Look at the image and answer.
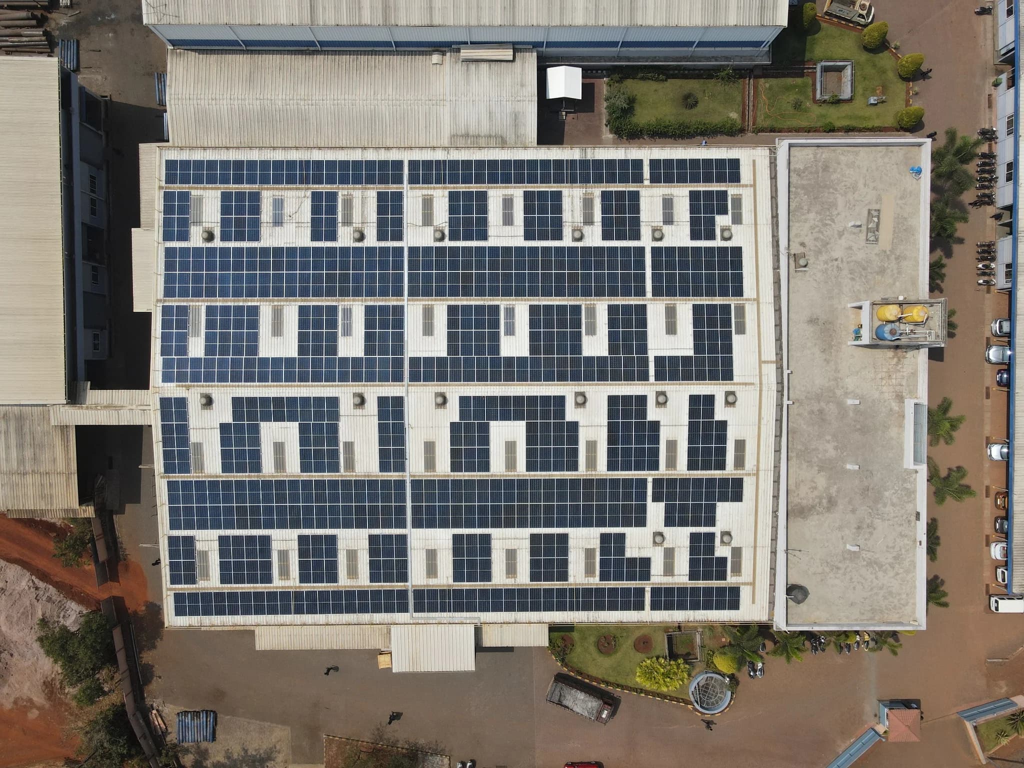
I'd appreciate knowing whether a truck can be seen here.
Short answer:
Yes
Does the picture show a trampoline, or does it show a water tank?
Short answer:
water tank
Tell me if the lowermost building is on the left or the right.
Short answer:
right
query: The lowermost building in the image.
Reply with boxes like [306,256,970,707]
[876,699,922,748]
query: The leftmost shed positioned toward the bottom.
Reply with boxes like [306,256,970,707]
[0,407,120,518]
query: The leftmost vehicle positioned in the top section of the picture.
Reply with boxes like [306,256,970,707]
[826,0,875,26]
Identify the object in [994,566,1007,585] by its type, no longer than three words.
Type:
vehicle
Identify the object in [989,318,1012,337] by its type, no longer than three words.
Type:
car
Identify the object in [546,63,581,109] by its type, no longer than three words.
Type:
tent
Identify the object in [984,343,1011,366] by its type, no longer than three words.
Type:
car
